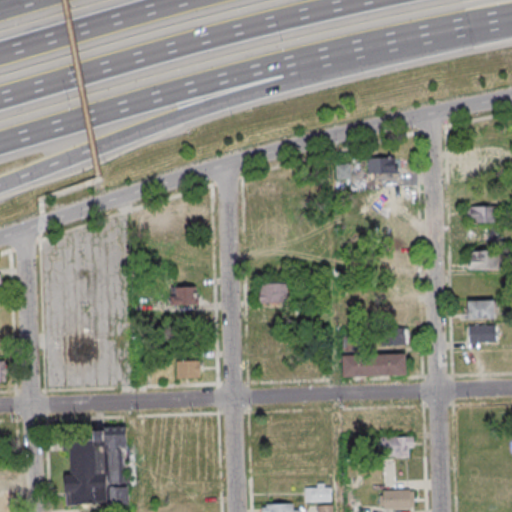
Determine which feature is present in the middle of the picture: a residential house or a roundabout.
residential house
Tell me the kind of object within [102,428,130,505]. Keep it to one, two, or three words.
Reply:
building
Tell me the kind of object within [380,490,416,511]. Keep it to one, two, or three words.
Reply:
house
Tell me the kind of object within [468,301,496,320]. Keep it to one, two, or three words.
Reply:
house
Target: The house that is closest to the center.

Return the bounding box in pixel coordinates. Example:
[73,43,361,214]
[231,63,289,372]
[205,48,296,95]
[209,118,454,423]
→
[260,284,288,307]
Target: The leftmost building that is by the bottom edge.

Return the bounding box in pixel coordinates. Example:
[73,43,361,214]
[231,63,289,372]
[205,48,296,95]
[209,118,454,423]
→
[63,431,106,506]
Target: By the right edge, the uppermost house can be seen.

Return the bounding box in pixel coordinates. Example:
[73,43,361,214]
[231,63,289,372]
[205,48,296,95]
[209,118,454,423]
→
[469,206,494,223]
